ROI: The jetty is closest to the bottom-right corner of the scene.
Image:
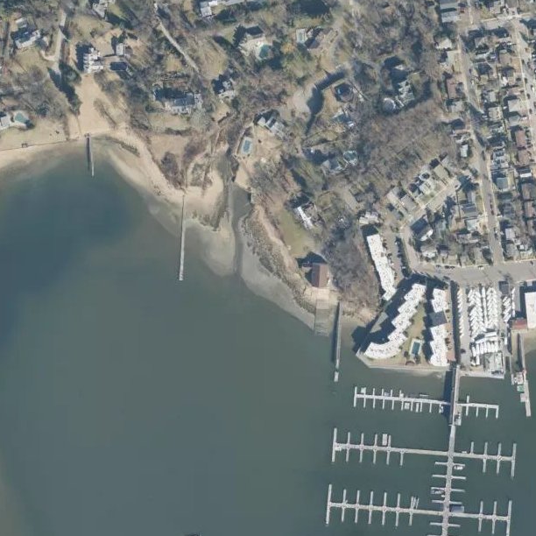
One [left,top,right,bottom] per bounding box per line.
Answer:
[450,500,511,536]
